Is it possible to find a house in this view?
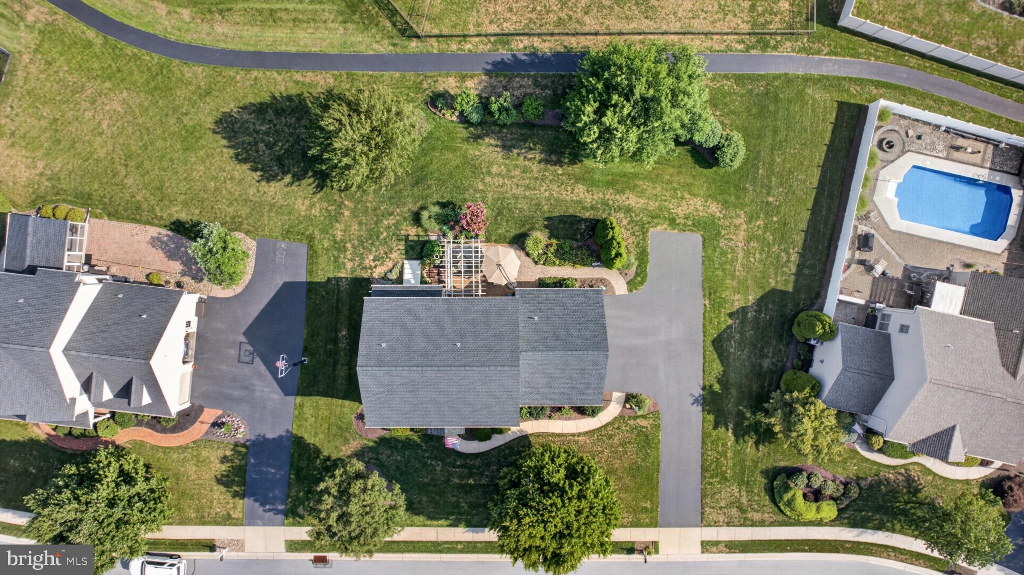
Yes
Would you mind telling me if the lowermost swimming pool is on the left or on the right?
right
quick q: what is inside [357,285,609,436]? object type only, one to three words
house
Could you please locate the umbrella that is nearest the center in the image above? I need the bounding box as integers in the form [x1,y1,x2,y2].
[480,245,521,290]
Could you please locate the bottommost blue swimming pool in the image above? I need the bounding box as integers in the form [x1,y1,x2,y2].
[886,164,1014,241]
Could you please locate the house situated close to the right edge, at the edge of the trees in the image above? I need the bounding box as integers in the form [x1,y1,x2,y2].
[813,270,1024,466]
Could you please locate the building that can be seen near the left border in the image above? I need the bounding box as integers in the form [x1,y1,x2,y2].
[0,213,201,430]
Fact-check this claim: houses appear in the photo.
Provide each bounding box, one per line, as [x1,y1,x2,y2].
[0,213,201,430]
[813,270,1024,466]
[357,285,609,436]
